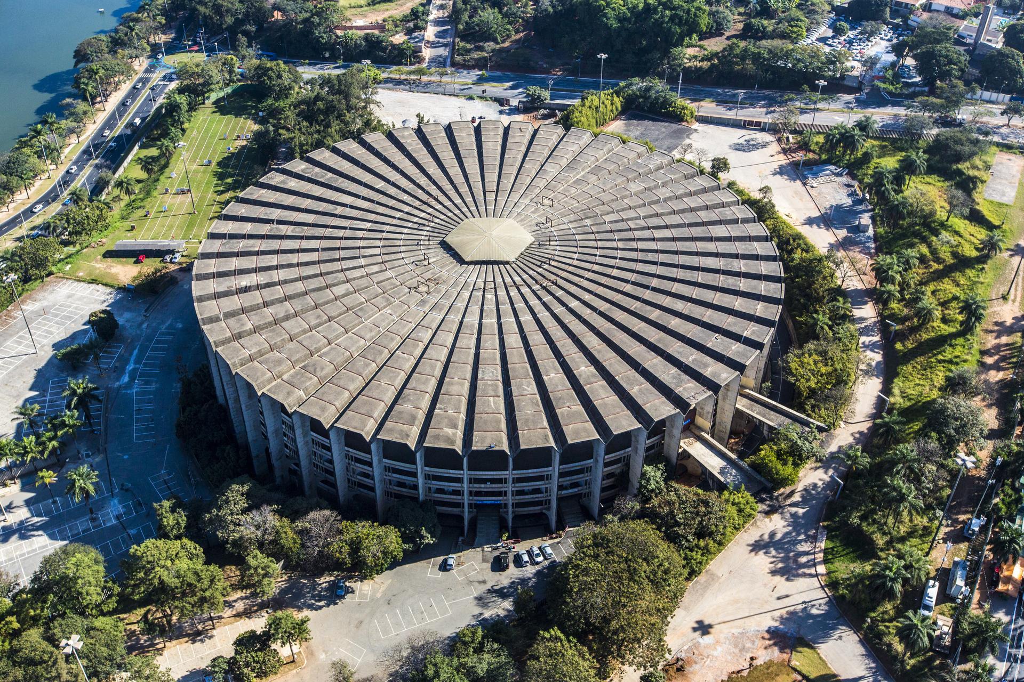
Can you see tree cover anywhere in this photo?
Yes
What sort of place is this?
sports ground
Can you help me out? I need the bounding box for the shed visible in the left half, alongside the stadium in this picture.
[110,240,196,259]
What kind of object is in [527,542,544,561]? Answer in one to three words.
car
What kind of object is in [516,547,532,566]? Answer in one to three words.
car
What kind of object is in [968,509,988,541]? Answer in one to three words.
vehicle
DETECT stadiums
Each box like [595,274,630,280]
[191,119,785,563]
